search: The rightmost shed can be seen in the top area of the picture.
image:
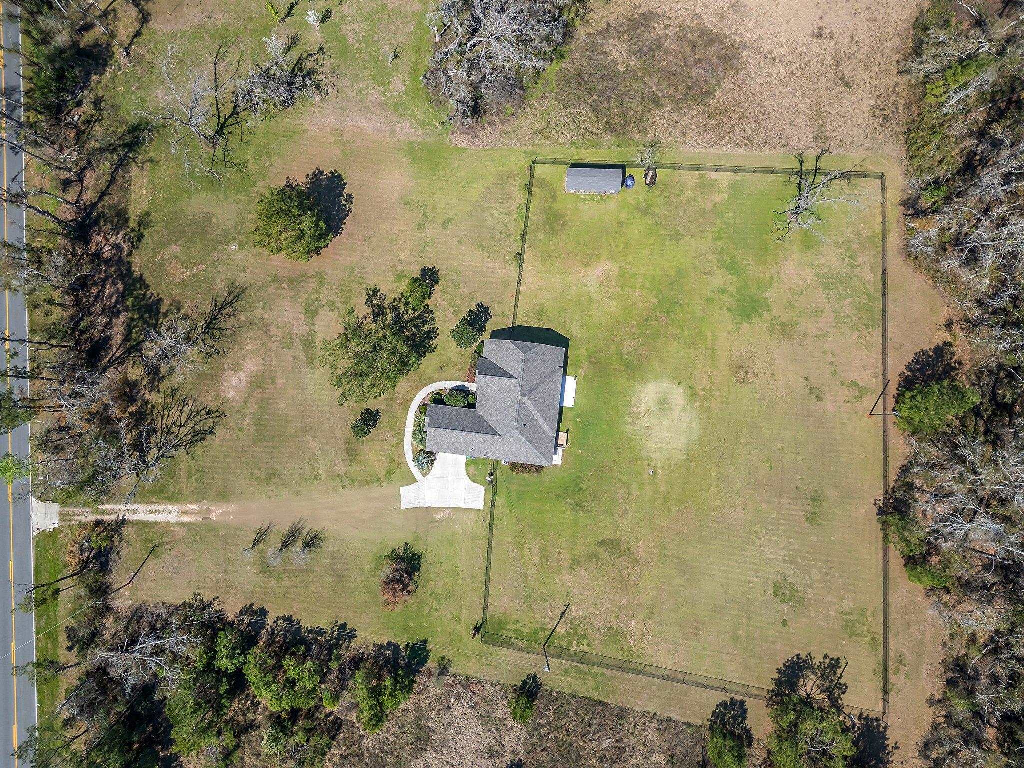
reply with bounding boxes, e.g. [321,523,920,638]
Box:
[567,167,623,198]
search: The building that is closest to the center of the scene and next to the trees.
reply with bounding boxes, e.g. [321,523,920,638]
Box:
[425,340,565,466]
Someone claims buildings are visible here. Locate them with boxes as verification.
[425,340,565,466]
[567,167,623,198]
